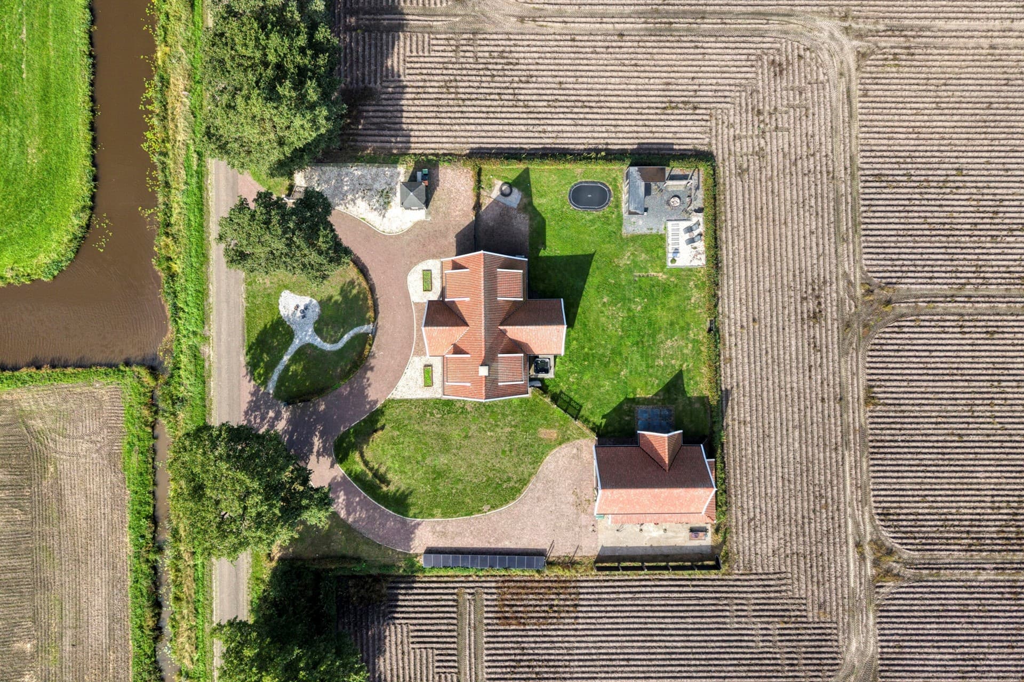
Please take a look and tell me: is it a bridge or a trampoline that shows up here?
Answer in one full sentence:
Visible in the photo is a trampoline.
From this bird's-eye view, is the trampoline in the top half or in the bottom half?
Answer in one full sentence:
The trampoline is in the top half of the image.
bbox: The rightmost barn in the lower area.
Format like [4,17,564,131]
[592,429,717,526]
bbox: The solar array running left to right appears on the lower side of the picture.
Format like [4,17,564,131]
[423,555,545,570]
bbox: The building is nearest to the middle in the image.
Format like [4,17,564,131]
[421,251,567,401]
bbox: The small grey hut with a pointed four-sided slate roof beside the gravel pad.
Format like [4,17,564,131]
[400,182,427,211]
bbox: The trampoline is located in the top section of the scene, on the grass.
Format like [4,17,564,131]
[568,180,613,211]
